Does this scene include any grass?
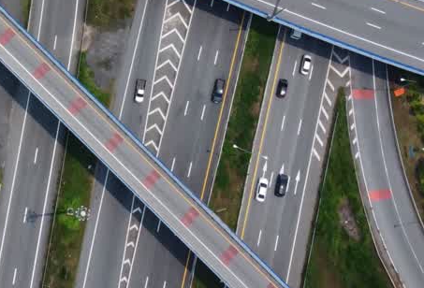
Yes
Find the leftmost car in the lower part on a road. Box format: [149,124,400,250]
[255,177,269,203]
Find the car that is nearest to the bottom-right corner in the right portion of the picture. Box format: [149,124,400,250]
[275,172,290,198]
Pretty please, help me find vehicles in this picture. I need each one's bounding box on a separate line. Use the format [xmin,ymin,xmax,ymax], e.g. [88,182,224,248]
[255,177,269,203]
[134,76,148,104]
[275,76,288,101]
[275,172,290,198]
[300,53,313,76]
[212,76,227,103]
[290,32,301,46]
